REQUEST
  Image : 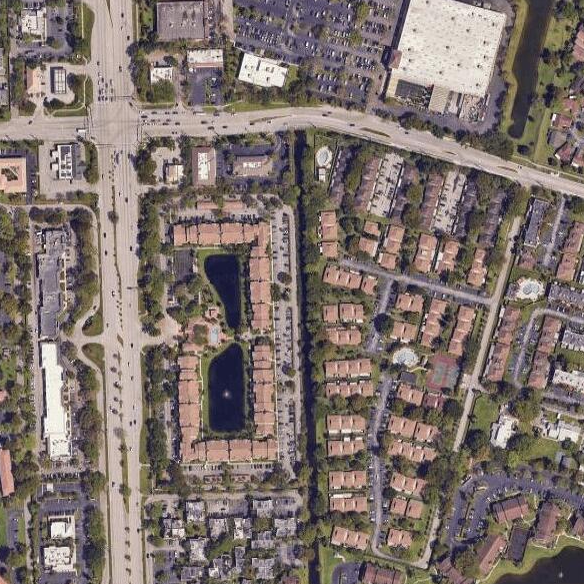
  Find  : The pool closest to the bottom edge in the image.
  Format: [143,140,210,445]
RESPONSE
[393,347,418,368]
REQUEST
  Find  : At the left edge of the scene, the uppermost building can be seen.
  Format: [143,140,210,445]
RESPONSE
[21,9,46,39]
